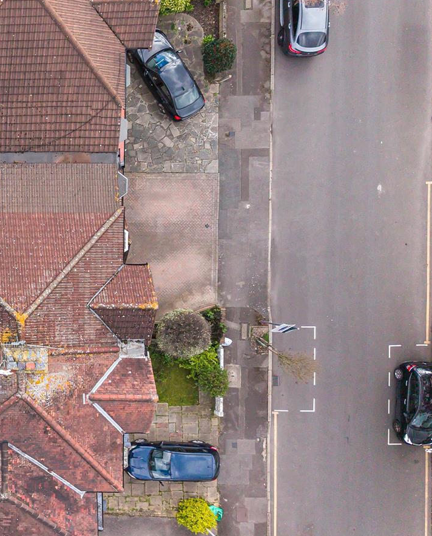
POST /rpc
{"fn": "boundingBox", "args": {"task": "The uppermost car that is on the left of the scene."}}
[132,33,203,123]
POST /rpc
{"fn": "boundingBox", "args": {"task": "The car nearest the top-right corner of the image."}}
[274,0,325,55]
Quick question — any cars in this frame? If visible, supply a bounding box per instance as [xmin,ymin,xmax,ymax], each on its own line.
[274,0,325,55]
[125,437,215,483]
[132,33,203,123]
[391,362,432,443]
